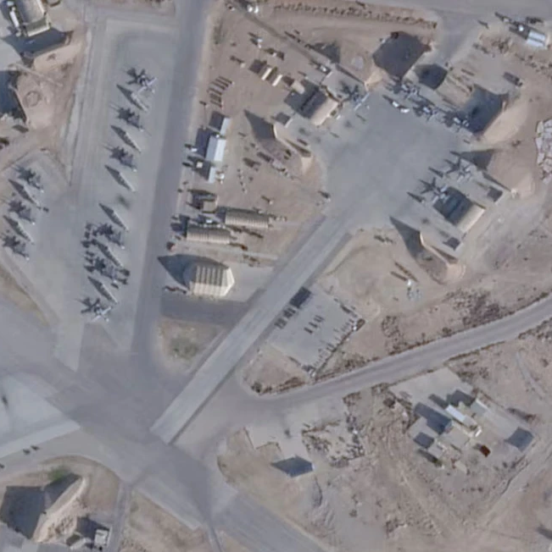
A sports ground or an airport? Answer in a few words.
airport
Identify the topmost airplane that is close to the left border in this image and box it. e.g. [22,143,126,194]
[20,171,41,191]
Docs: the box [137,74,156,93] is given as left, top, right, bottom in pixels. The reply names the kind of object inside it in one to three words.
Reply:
airplane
